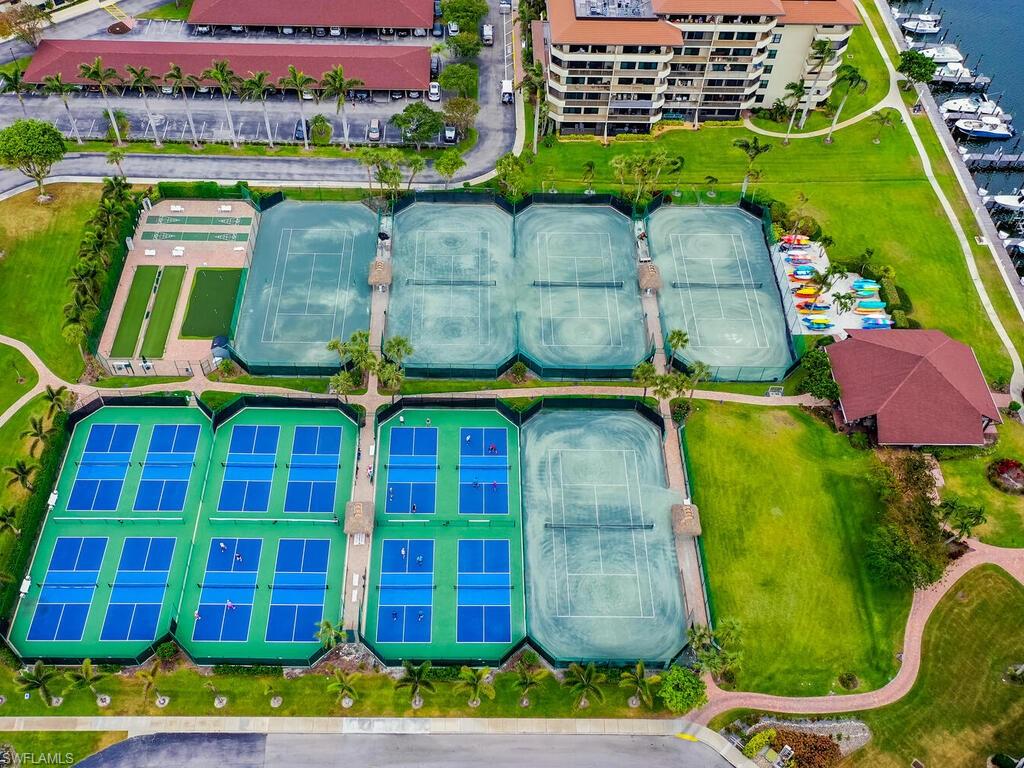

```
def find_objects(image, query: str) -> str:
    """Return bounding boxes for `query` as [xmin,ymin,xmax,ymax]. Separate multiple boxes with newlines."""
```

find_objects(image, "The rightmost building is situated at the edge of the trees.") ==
[824,328,1004,449]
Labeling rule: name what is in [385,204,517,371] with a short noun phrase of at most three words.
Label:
tennis court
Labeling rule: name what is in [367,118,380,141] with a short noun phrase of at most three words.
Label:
vehicle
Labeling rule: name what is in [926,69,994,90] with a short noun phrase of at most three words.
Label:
pier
